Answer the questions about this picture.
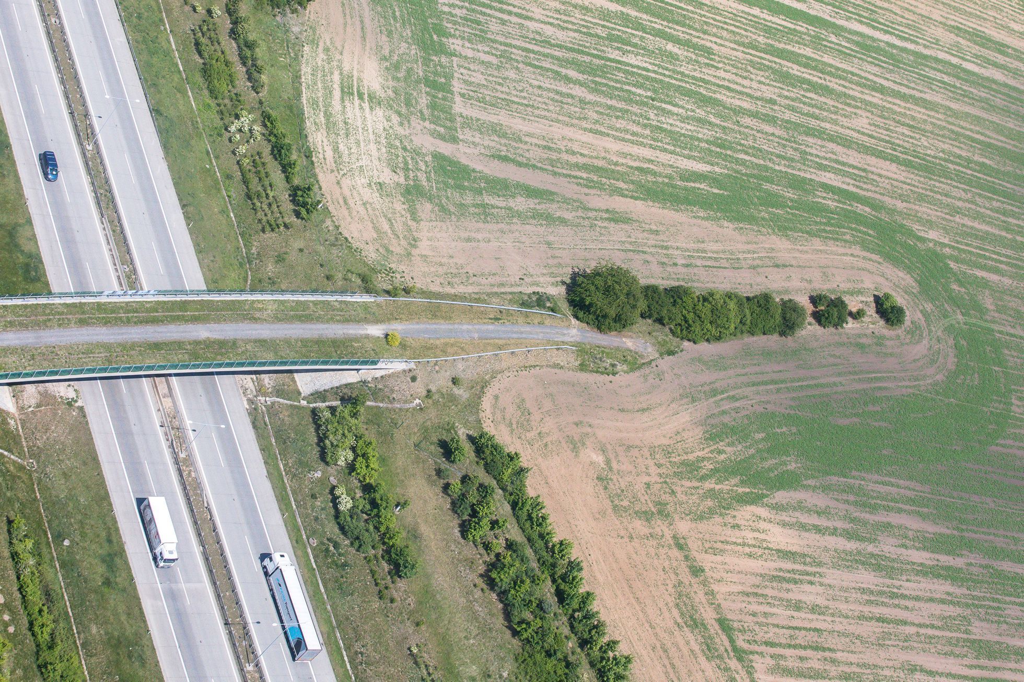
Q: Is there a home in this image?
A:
No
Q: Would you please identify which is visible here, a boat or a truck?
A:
truck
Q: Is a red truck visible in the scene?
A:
No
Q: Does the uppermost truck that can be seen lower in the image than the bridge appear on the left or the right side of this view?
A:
left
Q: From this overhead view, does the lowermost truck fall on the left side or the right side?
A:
left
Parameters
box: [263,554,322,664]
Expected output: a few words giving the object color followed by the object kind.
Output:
white truck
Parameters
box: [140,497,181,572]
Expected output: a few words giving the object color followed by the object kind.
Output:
white truck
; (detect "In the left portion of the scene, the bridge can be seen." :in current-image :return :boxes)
[0,294,429,383]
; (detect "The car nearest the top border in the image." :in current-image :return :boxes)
[42,153,60,182]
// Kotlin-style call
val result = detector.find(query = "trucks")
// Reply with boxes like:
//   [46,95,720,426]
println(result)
[140,497,181,572]
[263,554,322,664]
